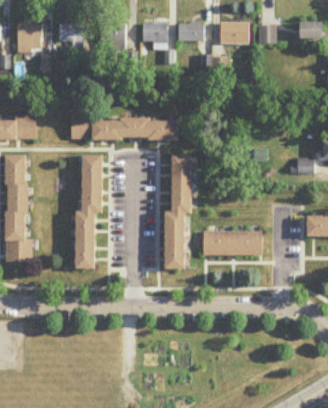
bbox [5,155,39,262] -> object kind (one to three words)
building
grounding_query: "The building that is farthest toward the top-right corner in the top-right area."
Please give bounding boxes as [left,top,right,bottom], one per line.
[299,22,324,41]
